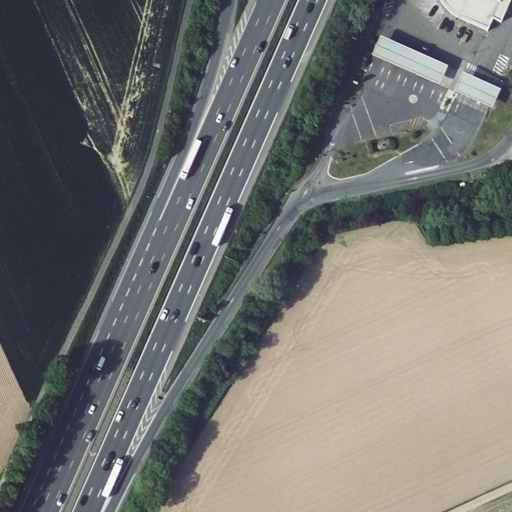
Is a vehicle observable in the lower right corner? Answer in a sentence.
No, no vehicle can be made out in the lower right corner.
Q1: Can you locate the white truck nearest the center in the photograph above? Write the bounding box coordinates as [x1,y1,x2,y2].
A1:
[211,207,234,246]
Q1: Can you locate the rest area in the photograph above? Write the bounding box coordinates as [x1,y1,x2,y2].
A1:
[318,0,512,180]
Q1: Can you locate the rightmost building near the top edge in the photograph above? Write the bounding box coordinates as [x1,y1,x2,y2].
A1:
[440,0,511,30]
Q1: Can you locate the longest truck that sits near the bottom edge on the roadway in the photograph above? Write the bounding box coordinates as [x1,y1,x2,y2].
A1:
[102,458,124,498]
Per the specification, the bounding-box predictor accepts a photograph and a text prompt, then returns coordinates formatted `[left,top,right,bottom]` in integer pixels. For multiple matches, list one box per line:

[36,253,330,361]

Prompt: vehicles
[80,494,88,506]
[172,309,179,320]
[216,112,224,123]
[116,411,123,422]
[258,41,266,52]
[191,242,199,254]
[96,356,106,371]
[88,404,96,415]
[160,310,168,320]
[57,495,65,506]
[306,2,314,14]
[132,398,140,409]
[457,26,466,38]
[462,30,472,42]
[180,138,202,180]
[186,198,194,209]
[104,459,112,471]
[284,24,295,40]
[445,20,454,32]
[102,458,124,498]
[230,57,238,68]
[429,5,438,16]
[283,56,291,68]
[86,431,94,442]
[194,256,202,268]
[211,207,234,246]
[150,262,158,274]
[439,18,448,29]
[224,120,231,130]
